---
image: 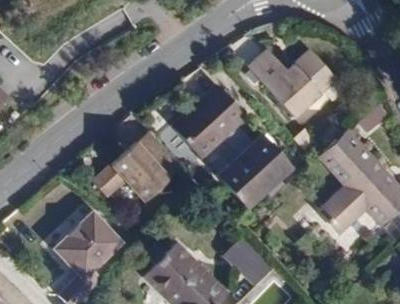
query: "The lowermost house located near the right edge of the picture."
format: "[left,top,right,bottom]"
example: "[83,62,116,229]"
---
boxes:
[320,130,400,226]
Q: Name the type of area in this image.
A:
residential area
